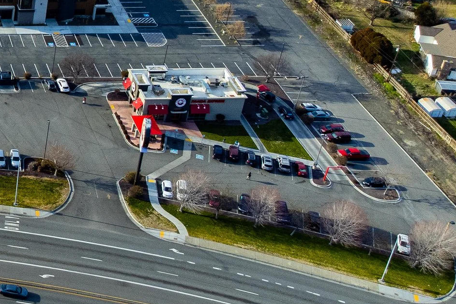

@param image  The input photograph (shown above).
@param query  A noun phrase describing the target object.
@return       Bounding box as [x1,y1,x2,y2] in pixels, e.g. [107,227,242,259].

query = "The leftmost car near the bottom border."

[0,284,28,299]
